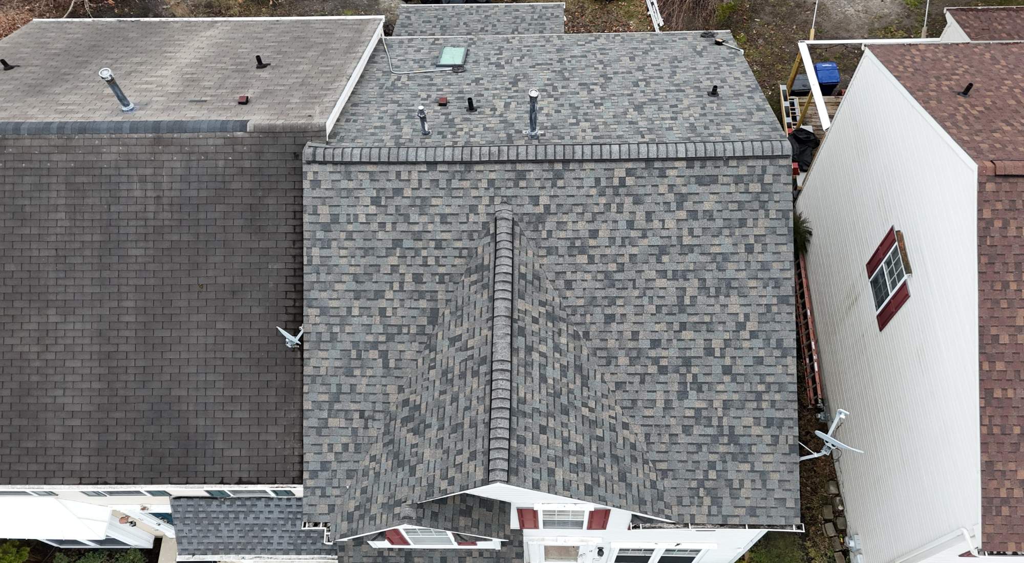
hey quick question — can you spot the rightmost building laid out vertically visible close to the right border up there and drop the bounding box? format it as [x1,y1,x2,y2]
[799,6,1024,563]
